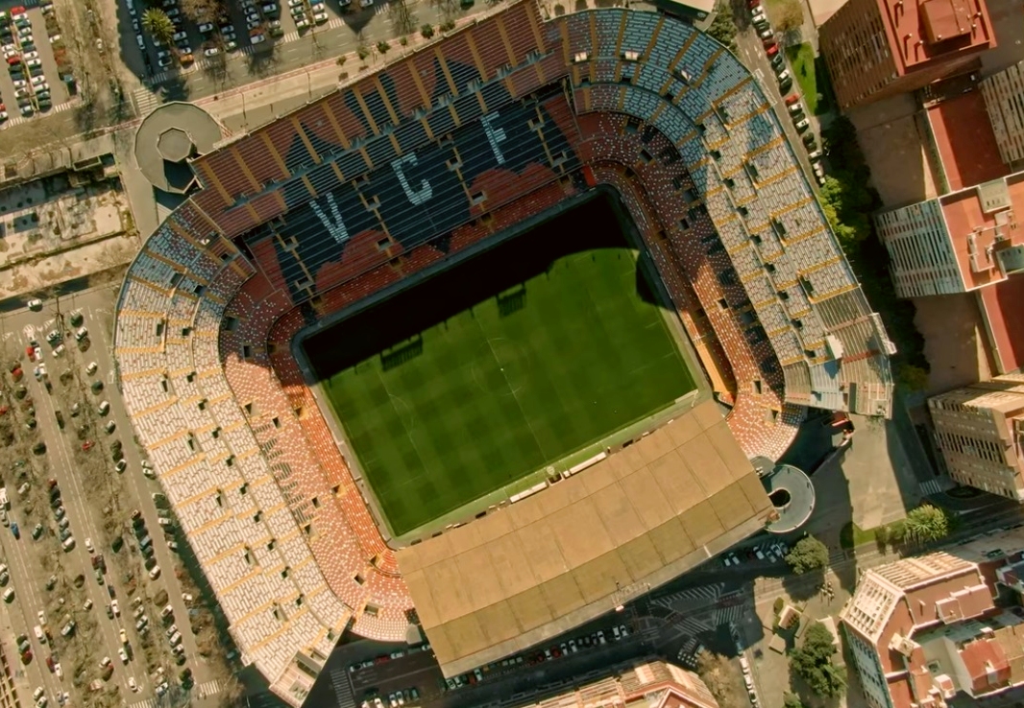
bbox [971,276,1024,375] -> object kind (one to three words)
building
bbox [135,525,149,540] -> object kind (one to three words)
car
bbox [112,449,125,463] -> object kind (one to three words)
vehicle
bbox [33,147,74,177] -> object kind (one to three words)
building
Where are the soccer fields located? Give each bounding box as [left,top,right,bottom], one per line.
[301,192,699,540]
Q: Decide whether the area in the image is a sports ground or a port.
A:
sports ground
